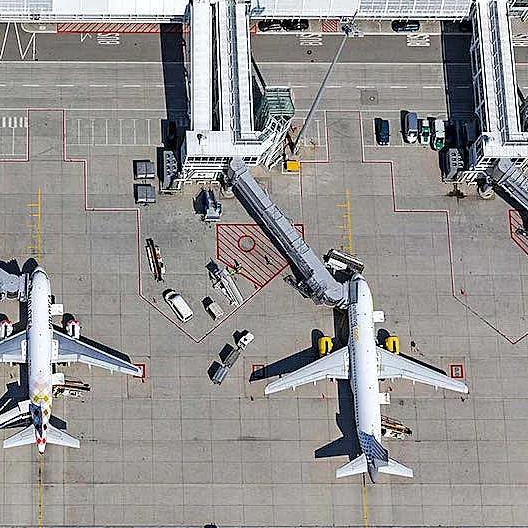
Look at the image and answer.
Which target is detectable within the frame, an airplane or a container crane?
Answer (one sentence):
There is an airplane in the scene.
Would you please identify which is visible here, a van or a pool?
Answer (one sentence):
It is a van that can be seen here.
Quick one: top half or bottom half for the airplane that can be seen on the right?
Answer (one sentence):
The bottom half of the photo is where the airplane that can be seen on the right is.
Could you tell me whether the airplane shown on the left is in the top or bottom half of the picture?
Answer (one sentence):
The airplane shown on the left sits in the bottom half of the picture.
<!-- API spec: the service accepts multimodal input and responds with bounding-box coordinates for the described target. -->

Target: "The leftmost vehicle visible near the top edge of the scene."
[257,20,283,32]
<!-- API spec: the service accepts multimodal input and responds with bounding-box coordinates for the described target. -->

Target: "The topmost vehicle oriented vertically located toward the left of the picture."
[164,118,176,144]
